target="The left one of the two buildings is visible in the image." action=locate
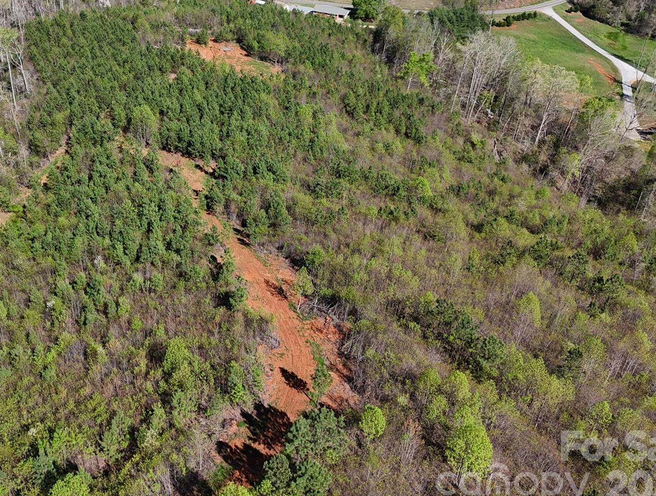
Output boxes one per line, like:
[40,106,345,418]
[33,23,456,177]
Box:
[286,0,314,16]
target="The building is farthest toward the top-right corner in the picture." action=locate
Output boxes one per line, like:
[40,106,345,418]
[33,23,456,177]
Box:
[312,2,354,20]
